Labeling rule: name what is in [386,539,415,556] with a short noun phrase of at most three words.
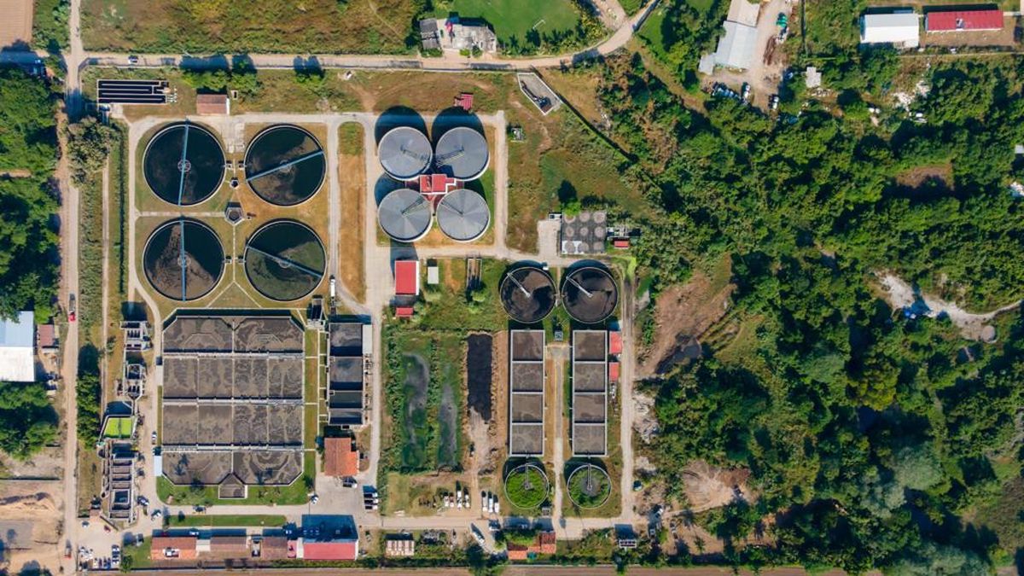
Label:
shed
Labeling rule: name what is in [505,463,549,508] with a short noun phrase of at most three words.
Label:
storage tank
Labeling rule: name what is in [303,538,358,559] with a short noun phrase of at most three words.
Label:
building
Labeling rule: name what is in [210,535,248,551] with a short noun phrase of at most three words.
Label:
house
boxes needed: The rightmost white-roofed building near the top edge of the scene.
[861,14,921,49]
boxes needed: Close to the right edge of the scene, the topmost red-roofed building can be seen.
[924,9,1004,33]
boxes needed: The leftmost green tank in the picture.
[97,402,144,446]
